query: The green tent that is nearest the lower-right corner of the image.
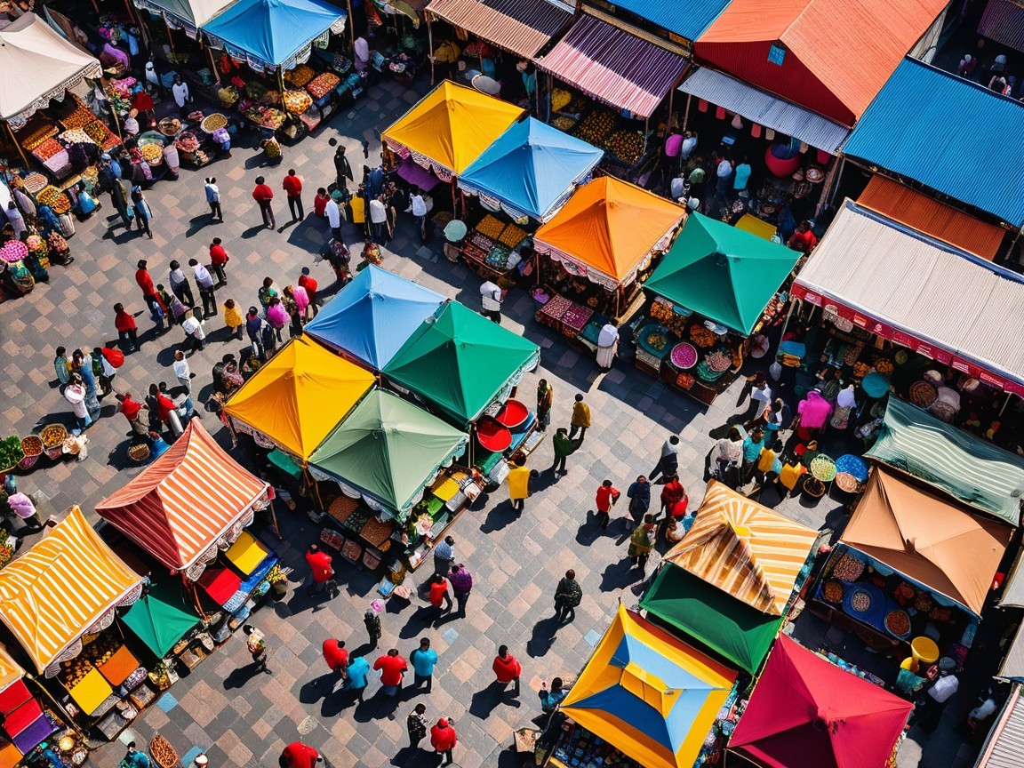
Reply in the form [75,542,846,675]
[639,564,777,719]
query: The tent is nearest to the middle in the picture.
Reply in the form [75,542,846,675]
[381,300,541,475]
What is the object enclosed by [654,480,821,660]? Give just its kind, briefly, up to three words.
tent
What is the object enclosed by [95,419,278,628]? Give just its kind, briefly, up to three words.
tent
